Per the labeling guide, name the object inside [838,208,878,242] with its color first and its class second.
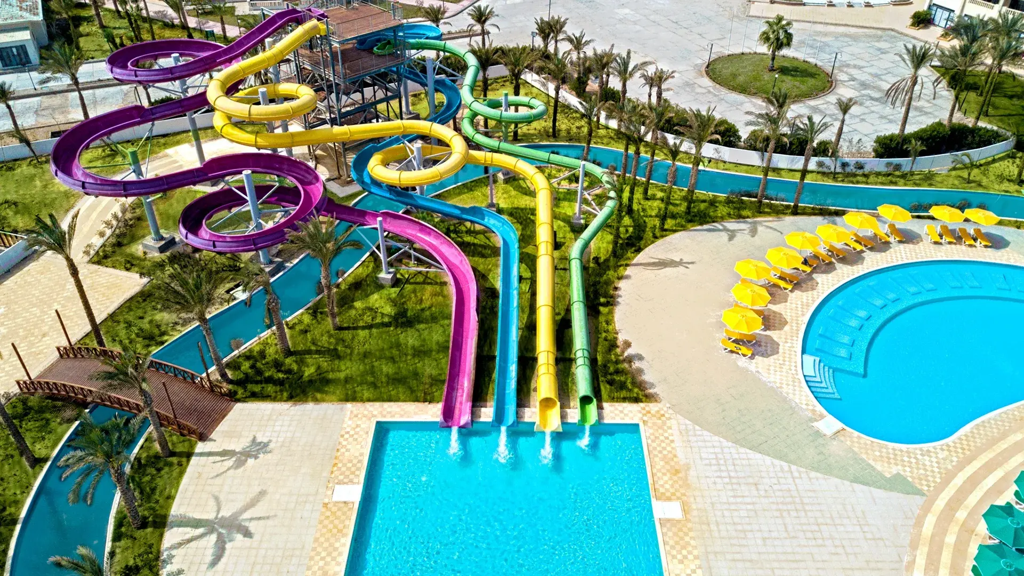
yellow umbrella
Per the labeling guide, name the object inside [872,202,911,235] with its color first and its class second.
yellow umbrella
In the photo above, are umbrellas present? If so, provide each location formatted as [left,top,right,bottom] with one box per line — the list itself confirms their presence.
[960,205,999,235]
[974,503,1024,553]
[720,304,763,345]
[730,280,772,305]
[927,202,964,233]
[732,256,772,281]
[763,245,804,281]
[872,202,911,235]
[838,208,878,242]
[967,541,1024,576]
[783,229,822,251]
[814,221,853,257]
